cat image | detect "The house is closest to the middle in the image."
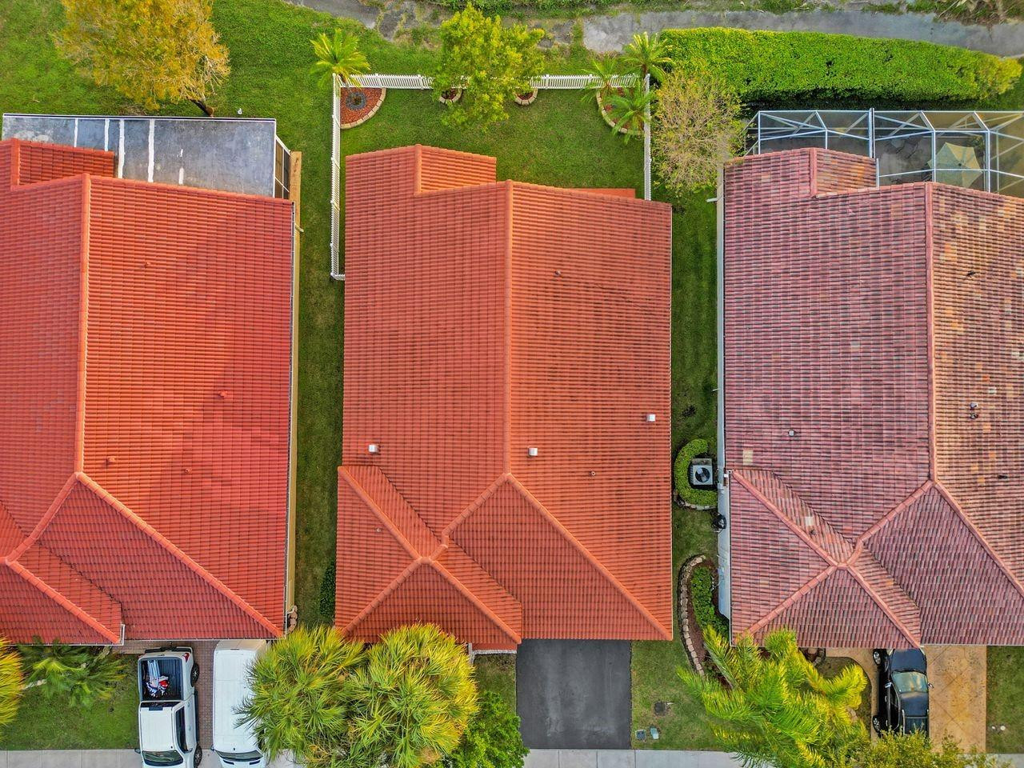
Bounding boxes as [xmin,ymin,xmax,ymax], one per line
[332,142,674,646]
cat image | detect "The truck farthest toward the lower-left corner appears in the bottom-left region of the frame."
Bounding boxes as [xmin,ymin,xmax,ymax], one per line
[133,643,203,768]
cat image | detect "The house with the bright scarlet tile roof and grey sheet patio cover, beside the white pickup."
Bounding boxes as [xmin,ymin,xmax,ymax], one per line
[0,138,312,644]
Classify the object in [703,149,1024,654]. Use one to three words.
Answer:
house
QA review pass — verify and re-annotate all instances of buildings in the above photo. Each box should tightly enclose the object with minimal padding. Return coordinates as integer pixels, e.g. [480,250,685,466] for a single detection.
[703,149,1024,654]
[332,142,674,646]
[0,138,312,644]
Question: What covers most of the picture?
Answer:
buildings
